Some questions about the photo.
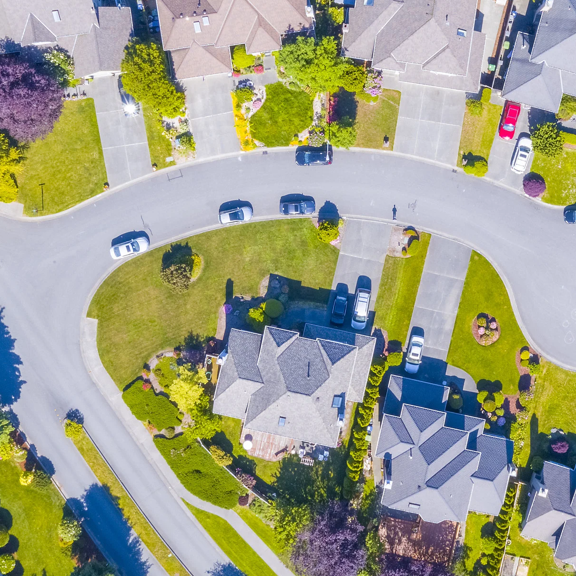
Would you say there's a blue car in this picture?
Yes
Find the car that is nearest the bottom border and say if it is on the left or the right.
right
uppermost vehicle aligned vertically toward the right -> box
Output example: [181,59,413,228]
[499,100,521,140]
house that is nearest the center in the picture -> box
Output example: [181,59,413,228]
[213,323,376,449]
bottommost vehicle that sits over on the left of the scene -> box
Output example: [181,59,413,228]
[107,236,152,261]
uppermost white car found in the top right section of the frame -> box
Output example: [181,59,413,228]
[510,134,534,175]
